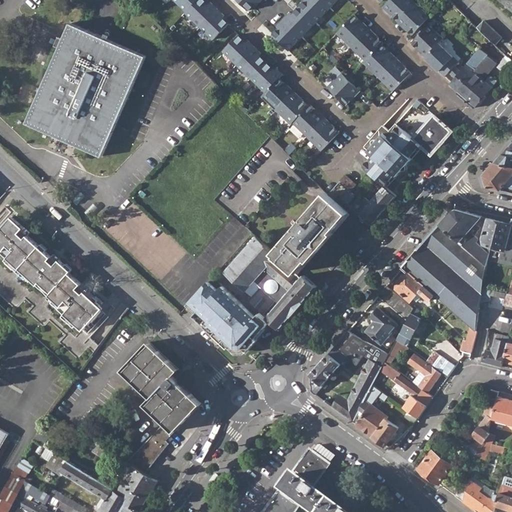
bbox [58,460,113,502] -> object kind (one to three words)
shed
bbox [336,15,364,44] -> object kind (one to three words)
house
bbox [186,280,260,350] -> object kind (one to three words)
building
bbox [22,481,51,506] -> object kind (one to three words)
house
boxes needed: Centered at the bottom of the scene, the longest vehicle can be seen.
[200,424,222,460]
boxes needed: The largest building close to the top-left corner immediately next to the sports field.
[24,25,147,158]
